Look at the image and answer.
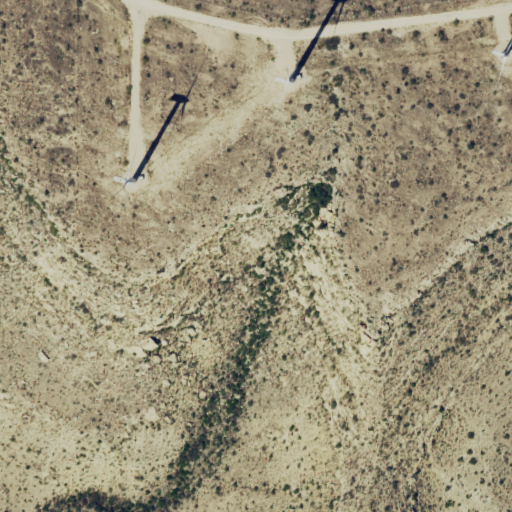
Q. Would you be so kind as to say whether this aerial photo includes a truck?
No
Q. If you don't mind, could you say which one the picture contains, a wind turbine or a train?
wind turbine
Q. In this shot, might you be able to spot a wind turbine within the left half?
Yes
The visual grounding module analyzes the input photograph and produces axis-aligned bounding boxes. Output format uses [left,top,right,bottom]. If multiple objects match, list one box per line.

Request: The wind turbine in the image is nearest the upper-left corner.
[113,156,140,220]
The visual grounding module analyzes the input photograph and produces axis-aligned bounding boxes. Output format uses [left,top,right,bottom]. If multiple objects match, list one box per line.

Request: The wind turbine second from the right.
[273,56,299,118]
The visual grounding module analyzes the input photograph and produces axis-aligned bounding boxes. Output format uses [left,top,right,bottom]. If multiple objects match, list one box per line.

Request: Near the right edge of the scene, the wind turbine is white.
[490,40,512,94]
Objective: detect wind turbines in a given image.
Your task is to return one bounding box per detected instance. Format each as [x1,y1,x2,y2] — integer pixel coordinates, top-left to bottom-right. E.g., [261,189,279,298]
[113,156,140,220]
[490,40,512,94]
[273,56,299,118]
